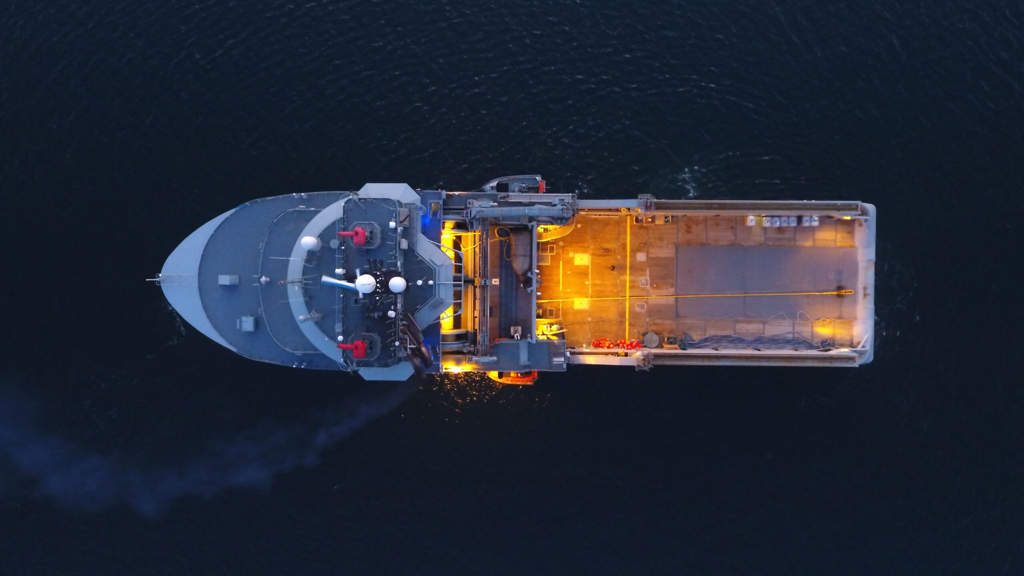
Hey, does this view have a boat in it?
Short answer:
Yes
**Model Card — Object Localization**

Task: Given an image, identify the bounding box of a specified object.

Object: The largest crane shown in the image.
[464,203,576,240]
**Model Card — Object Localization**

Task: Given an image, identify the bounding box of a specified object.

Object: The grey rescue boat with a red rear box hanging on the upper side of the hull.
[482,174,550,207]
